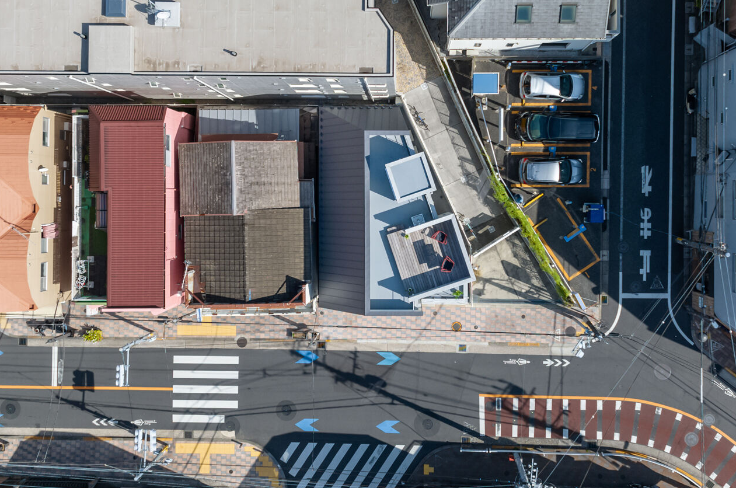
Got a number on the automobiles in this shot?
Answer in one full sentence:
I count 3 automobiles.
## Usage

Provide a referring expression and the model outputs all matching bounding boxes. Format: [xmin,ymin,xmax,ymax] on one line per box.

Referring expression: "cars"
[514,109,604,146]
[518,69,583,102]
[517,155,582,188]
